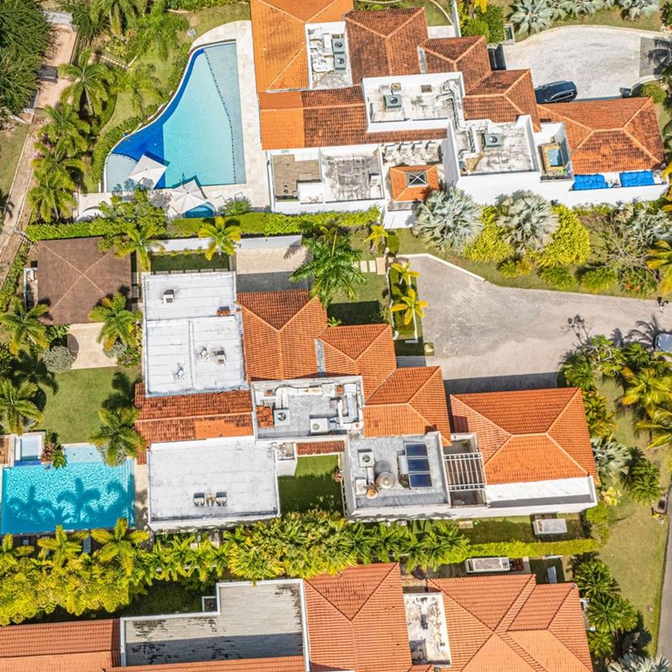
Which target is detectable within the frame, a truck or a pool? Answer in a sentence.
Of the two, only a pool appears.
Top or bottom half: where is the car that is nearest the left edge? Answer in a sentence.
You can find the car that is nearest the left edge in the top half.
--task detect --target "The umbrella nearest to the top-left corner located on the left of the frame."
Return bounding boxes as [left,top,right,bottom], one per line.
[127,159,168,192]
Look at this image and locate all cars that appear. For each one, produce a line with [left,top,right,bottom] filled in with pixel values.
[534,80,581,104]
[651,332,672,357]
